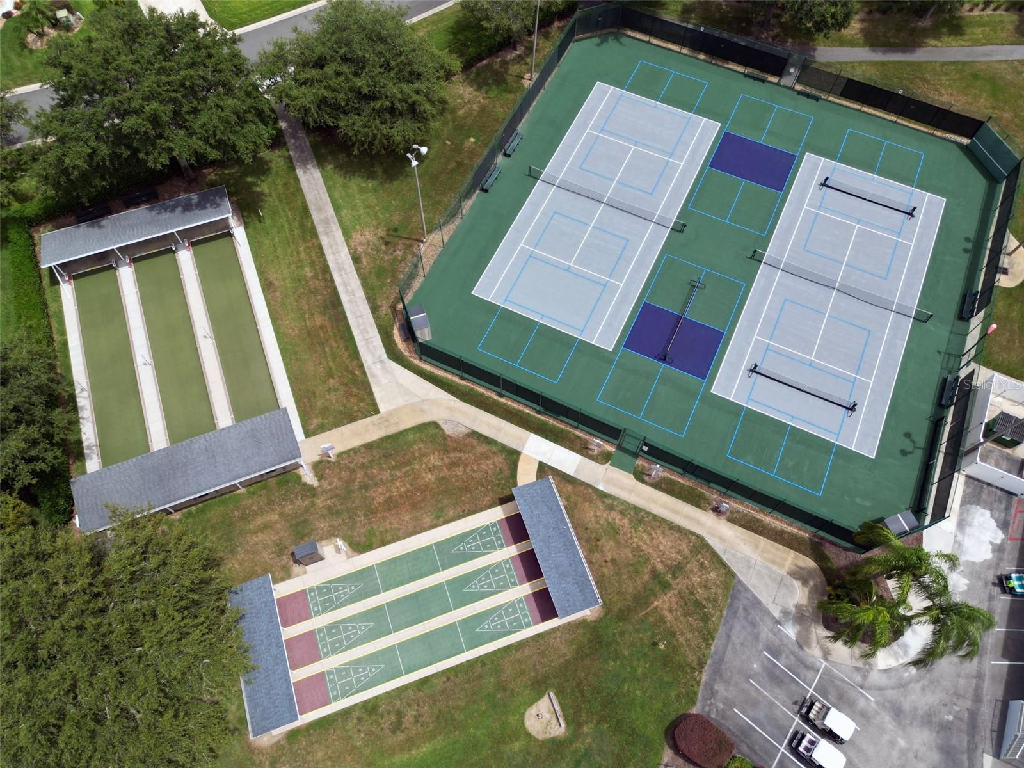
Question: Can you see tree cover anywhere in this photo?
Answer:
Yes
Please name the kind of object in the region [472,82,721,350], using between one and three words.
tennis court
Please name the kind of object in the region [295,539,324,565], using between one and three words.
shed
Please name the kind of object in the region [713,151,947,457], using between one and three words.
tennis court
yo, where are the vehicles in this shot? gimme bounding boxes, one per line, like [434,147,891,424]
[983,572,1024,599]
[796,695,856,748]
[784,727,846,768]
